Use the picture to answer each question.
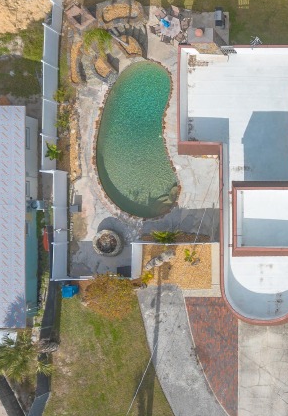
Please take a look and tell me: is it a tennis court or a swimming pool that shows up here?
swimming pool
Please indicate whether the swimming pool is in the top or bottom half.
top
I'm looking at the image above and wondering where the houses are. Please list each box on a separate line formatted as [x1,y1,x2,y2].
[179,25,288,322]
[0,106,37,328]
